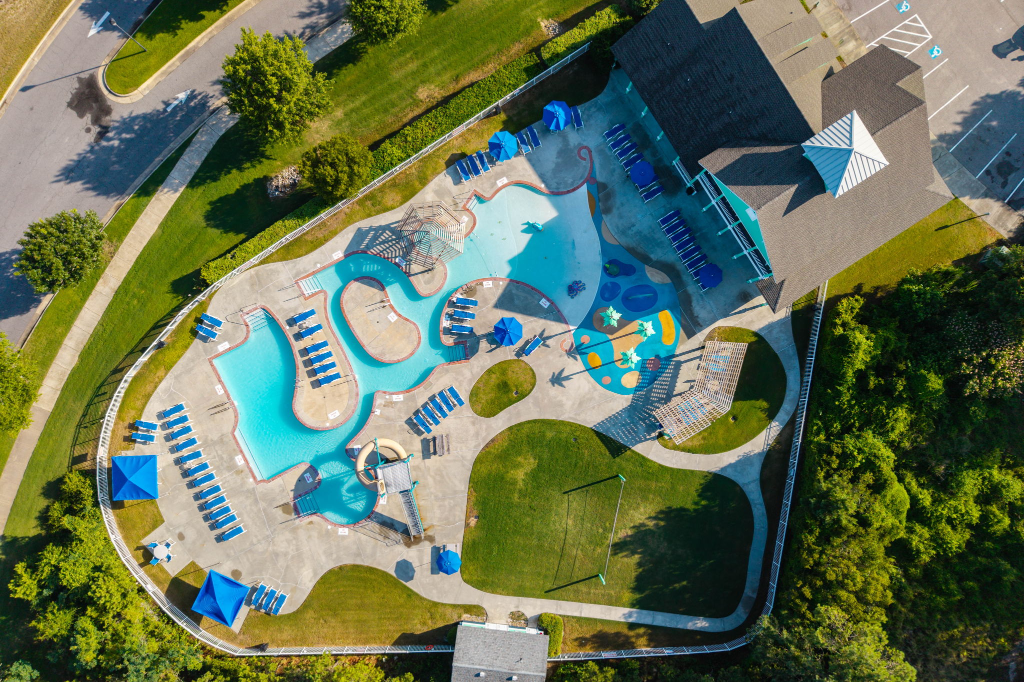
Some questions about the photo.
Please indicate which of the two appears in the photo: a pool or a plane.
pool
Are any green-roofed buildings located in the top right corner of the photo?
No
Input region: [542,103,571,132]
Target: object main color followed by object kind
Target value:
blue umbrella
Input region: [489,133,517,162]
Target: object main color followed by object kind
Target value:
blue umbrella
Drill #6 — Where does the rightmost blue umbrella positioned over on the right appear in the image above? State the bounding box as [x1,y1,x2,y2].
[695,263,722,290]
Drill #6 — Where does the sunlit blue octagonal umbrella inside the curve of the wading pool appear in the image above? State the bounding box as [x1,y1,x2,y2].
[494,316,522,345]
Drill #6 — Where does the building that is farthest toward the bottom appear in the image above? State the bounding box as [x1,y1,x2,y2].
[451,612,549,682]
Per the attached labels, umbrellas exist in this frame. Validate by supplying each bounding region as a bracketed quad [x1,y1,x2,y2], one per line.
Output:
[435,546,464,575]
[542,103,571,132]
[695,263,722,290]
[489,133,517,162]
[494,316,522,345]
[628,160,657,189]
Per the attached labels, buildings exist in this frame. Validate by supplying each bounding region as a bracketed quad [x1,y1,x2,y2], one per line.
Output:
[451,612,549,682]
[609,0,952,315]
